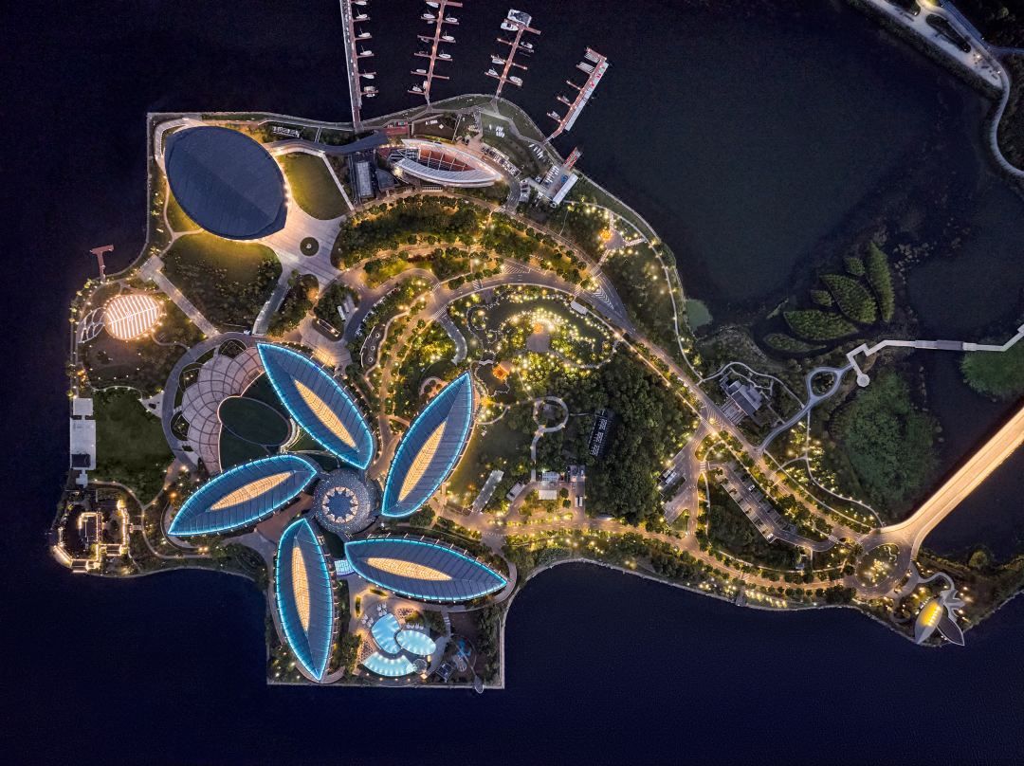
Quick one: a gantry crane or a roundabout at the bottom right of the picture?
roundabout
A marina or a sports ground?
marina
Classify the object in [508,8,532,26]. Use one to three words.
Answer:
boat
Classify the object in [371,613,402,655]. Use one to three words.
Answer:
swimming pool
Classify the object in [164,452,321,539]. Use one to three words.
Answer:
building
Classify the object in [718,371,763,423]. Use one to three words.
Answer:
house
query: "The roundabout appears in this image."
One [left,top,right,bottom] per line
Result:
[842,530,913,600]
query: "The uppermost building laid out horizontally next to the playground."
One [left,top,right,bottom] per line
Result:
[341,535,510,604]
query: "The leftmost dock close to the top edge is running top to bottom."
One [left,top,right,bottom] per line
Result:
[339,0,378,125]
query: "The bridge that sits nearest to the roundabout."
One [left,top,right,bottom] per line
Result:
[874,412,1024,559]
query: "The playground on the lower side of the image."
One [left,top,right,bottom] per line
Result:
[449,612,483,664]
